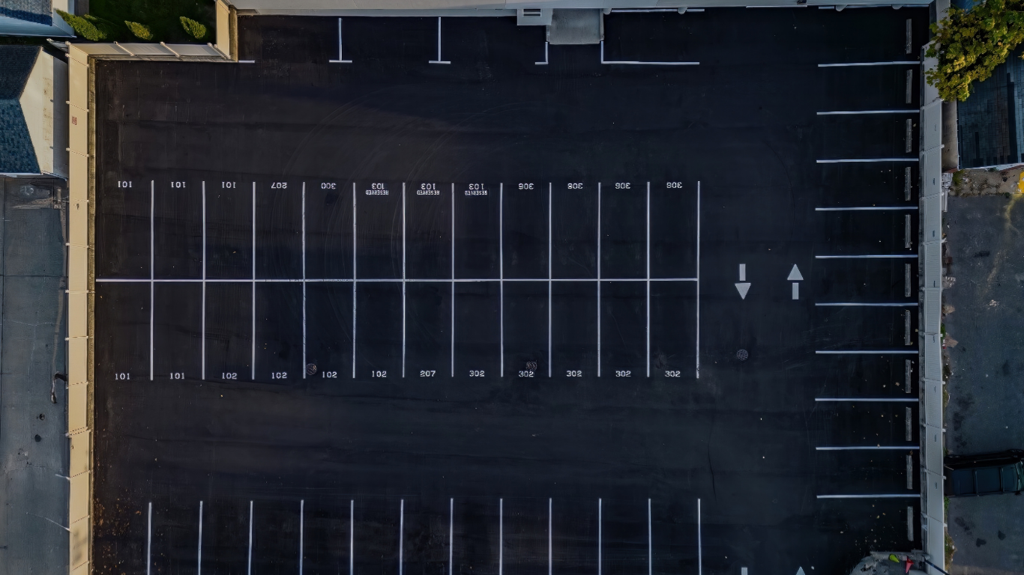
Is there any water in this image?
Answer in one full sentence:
No, there's no water in this view.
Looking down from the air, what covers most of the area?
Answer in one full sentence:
Most of the picture is covered by paved ground.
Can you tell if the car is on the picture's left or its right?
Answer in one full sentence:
It is on the right.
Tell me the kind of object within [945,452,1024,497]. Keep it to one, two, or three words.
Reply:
car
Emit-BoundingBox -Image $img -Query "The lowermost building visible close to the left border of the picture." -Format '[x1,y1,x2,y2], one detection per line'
[0,45,67,181]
